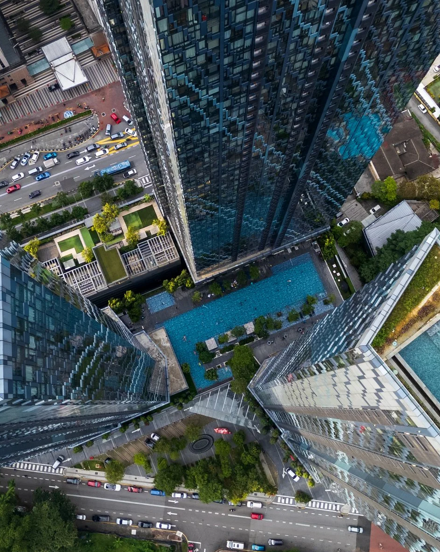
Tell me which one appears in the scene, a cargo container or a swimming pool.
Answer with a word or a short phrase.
swimming pool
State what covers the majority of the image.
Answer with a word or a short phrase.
buildings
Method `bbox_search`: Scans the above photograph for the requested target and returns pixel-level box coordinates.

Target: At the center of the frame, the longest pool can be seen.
[164,253,327,388]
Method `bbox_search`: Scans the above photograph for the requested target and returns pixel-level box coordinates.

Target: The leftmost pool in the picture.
[147,293,175,313]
